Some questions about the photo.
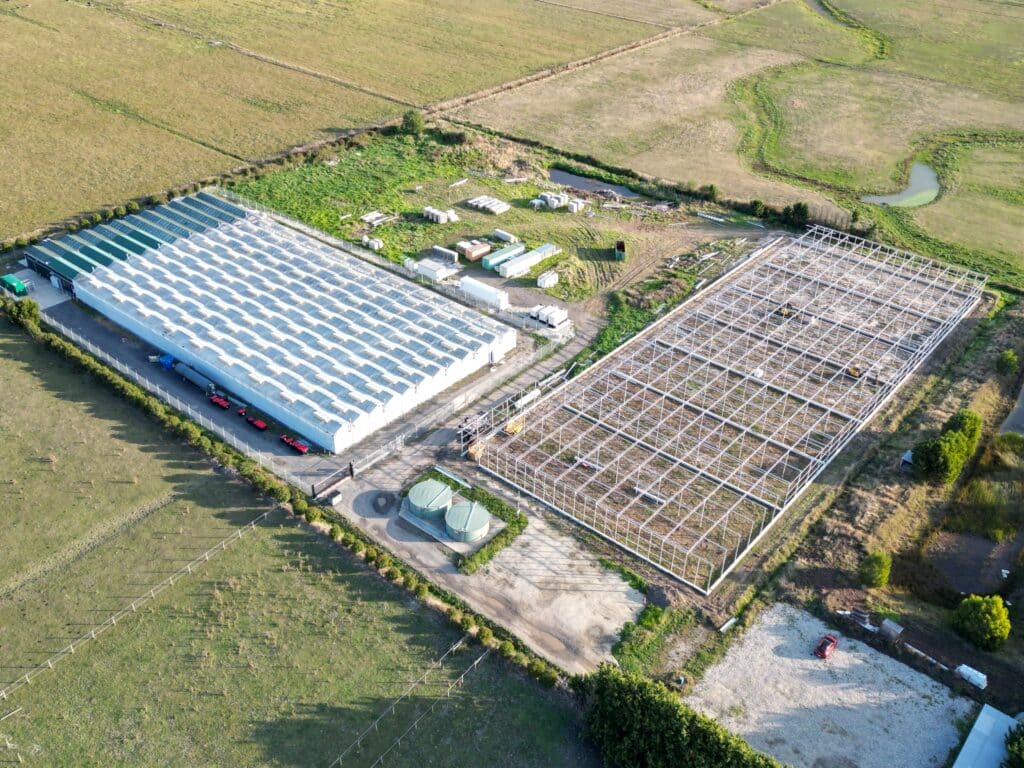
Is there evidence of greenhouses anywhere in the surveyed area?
Yes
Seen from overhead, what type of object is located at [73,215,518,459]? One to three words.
greenhouse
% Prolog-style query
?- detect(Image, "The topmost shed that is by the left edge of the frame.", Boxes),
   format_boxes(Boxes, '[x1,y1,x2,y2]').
[25,192,252,298]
